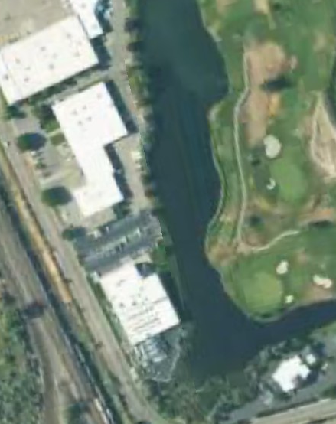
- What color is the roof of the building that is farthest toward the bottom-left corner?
white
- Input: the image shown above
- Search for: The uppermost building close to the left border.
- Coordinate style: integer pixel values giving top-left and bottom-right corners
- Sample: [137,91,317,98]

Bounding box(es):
[0,16,98,104]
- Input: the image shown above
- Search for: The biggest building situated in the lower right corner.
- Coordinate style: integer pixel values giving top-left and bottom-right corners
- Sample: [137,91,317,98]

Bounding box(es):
[274,356,310,393]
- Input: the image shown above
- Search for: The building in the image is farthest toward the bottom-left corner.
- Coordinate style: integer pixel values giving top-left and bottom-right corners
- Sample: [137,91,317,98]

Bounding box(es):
[99,261,179,346]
